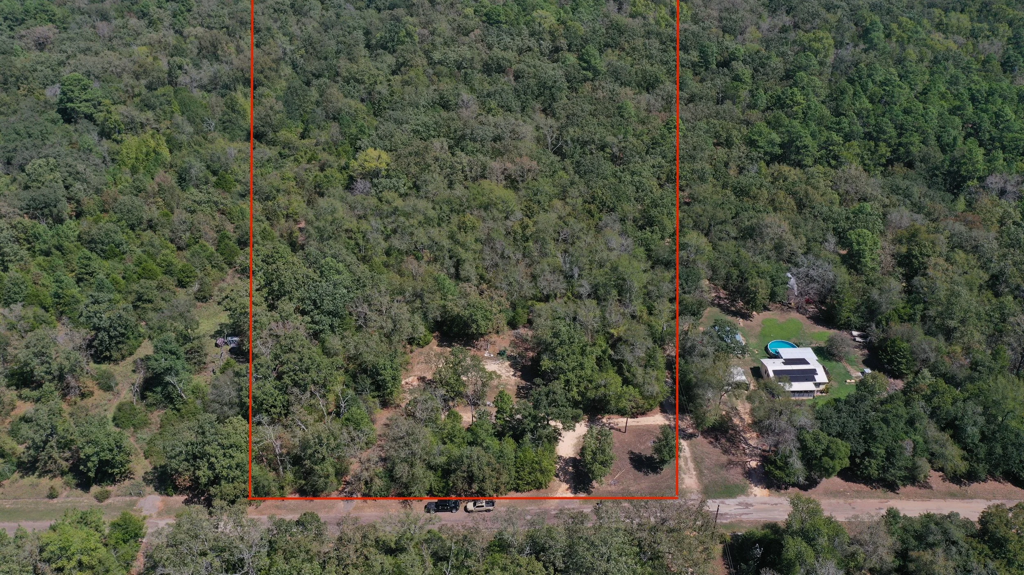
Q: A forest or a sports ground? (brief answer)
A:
forest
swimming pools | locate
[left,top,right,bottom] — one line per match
[765,340,796,359]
